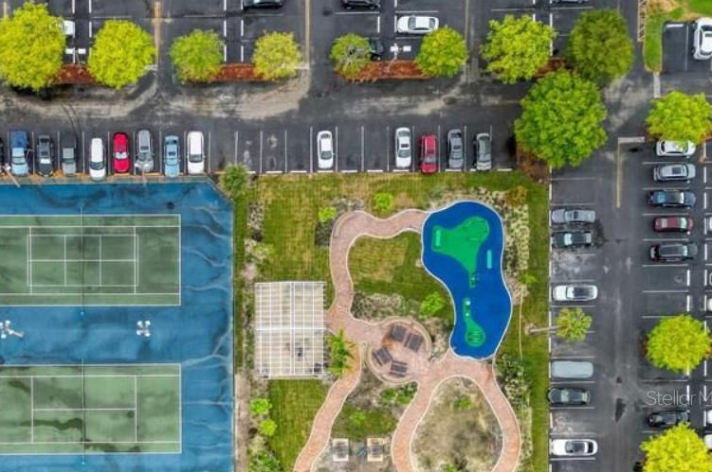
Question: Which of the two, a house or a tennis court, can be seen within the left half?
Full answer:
It is a tennis court that can be seen within the left half.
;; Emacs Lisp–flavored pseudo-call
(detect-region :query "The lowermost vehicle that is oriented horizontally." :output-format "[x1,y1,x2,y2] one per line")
[552,439,594,457]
